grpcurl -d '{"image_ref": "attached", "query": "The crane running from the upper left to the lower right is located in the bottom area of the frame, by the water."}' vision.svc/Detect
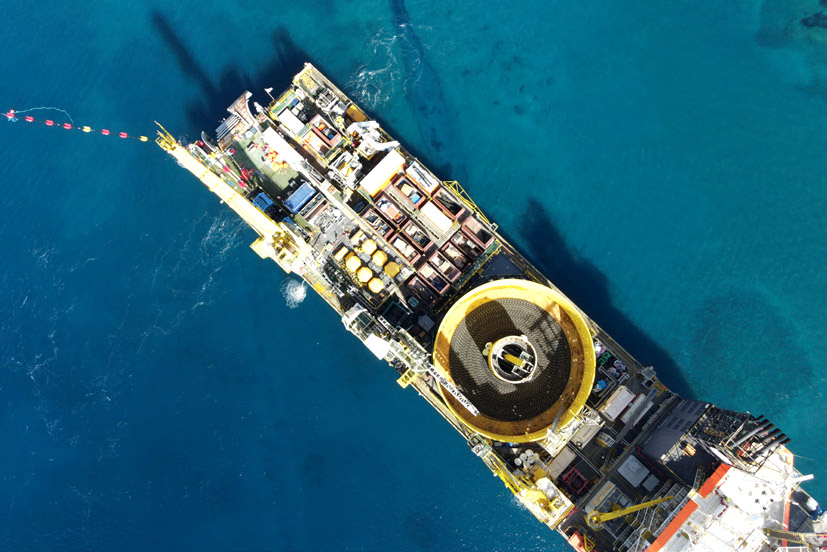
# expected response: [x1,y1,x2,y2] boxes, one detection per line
[470,430,577,525]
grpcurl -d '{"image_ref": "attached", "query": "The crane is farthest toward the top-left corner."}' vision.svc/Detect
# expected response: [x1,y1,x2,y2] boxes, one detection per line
[346,120,401,160]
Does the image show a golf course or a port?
port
